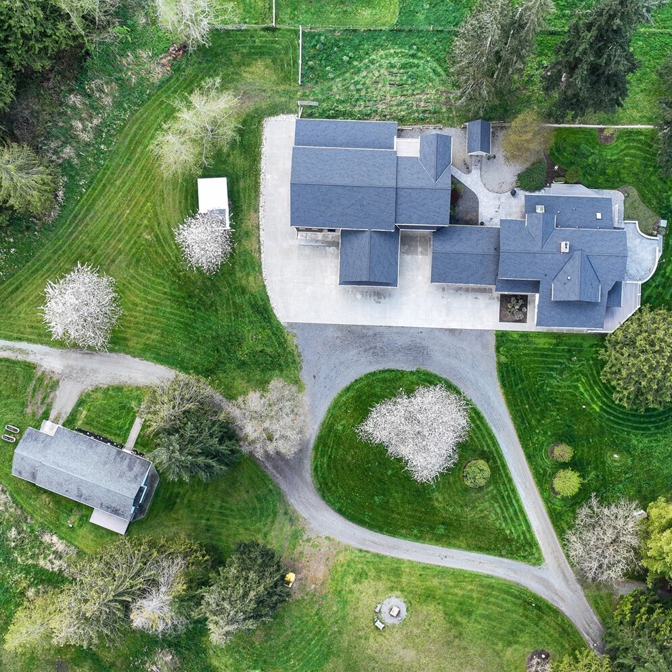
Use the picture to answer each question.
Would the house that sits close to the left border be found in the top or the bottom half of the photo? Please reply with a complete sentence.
Seen from above, the house that sits close to the left border lies in the bottom half of the view.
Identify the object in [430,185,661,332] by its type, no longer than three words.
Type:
house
